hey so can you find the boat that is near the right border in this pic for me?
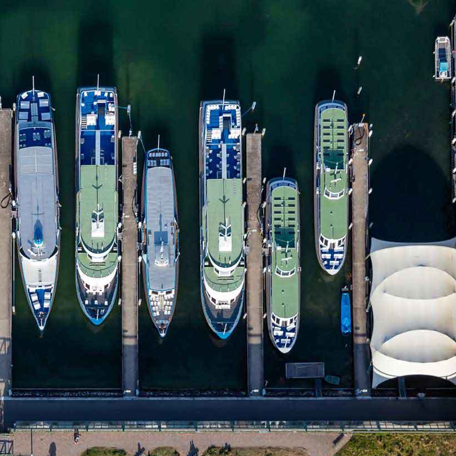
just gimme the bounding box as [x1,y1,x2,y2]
[433,37,452,84]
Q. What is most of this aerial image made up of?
water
